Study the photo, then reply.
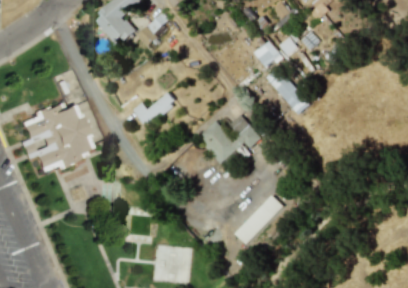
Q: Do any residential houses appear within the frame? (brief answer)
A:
Yes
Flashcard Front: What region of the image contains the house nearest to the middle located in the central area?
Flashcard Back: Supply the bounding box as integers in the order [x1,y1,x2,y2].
[201,114,258,160]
